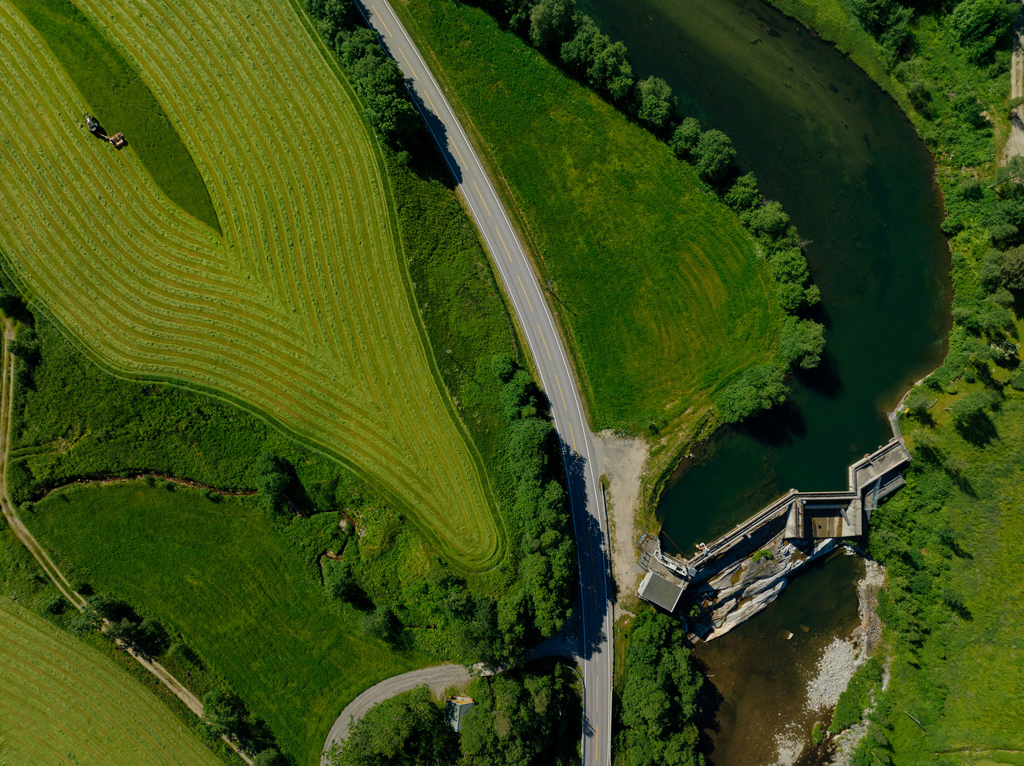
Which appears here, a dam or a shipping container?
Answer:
dam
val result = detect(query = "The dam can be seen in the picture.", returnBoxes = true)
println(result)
[684,437,911,574]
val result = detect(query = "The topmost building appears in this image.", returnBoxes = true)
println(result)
[640,571,683,612]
